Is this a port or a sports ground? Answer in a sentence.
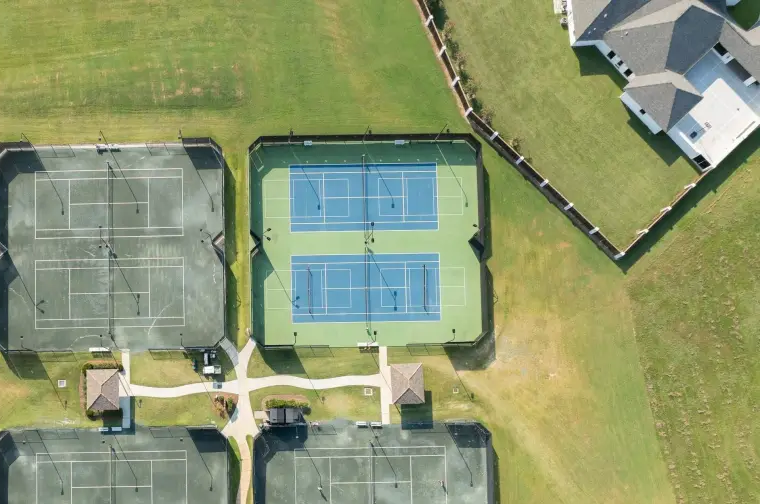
What you see here is a sports ground.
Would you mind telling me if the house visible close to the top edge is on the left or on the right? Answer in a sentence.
You can find the house visible close to the top edge on the right side of the picture.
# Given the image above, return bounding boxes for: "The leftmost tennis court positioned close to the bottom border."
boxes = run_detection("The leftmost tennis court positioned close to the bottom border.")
[0,426,231,504]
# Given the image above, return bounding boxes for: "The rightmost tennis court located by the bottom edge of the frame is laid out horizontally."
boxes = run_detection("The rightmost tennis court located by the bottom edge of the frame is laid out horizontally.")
[252,420,489,504]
